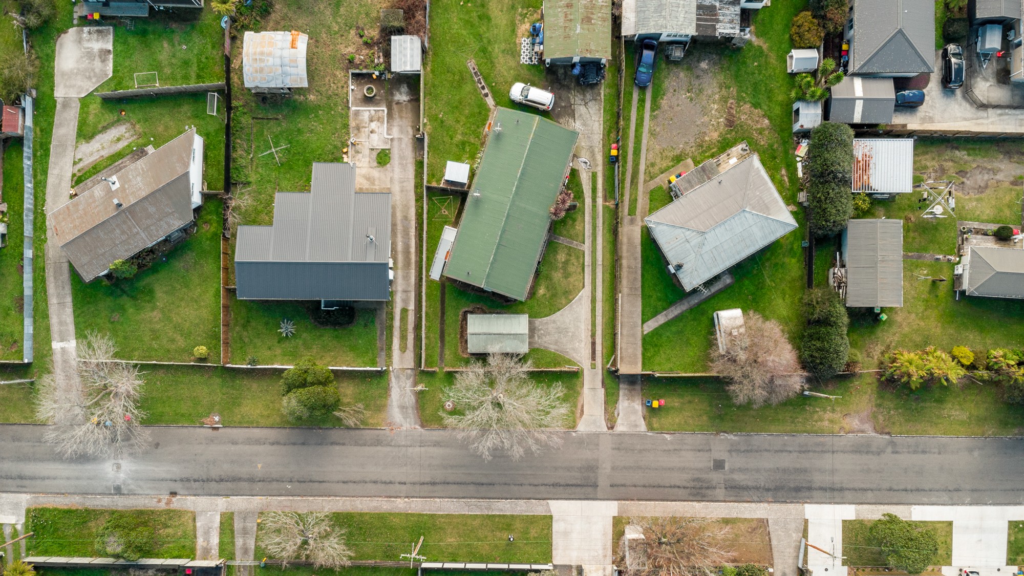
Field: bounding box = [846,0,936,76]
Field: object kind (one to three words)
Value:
house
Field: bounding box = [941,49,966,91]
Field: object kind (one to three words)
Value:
car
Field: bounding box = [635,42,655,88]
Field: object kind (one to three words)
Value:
car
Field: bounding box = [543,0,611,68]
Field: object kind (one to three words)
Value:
building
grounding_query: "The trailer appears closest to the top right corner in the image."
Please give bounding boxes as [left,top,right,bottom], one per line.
[979,24,1006,68]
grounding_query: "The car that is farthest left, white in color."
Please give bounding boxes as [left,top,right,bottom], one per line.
[511,84,555,111]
